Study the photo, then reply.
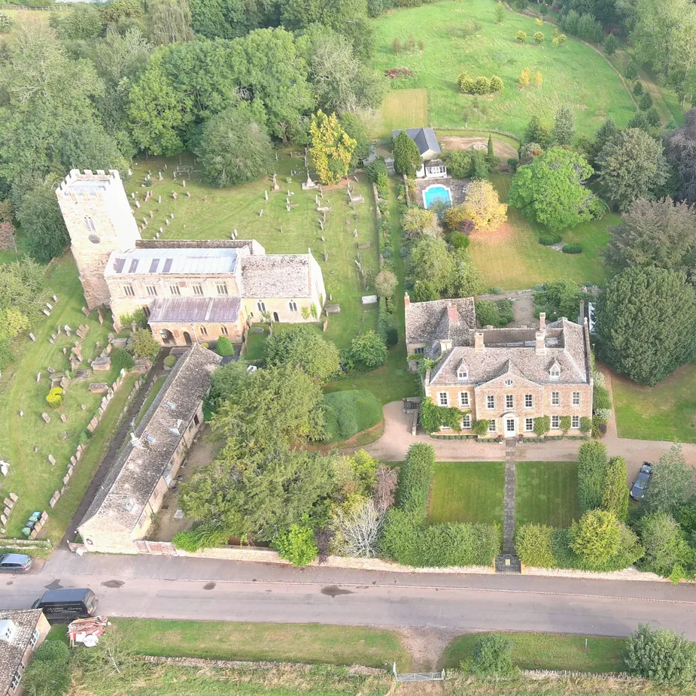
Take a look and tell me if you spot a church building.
Yes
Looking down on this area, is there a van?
Yes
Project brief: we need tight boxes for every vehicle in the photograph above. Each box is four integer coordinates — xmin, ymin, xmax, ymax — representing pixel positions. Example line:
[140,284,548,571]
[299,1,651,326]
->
[631,464,654,496]
[36,591,94,621]
[0,553,32,574]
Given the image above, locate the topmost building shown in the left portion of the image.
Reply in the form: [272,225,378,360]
[48,161,334,348]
